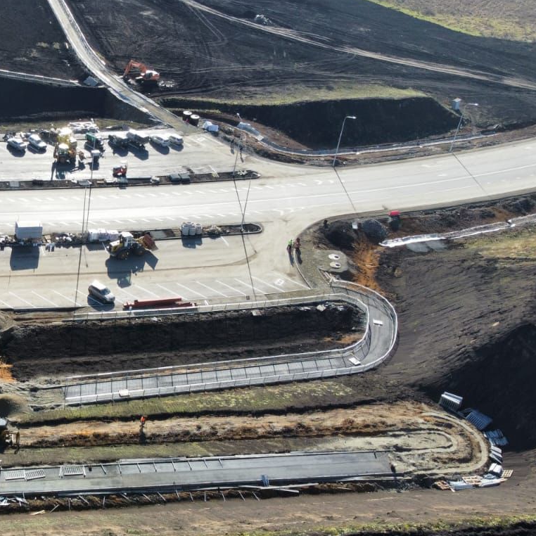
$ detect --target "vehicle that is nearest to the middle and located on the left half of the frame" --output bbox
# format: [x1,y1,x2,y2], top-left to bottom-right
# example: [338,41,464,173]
[111,235,160,258]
